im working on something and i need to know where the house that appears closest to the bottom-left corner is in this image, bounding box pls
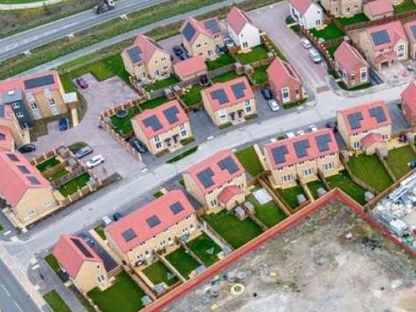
[47,234,113,296]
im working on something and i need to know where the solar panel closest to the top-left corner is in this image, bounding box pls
[26,74,58,91]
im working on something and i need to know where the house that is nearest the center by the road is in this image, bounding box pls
[175,148,244,206]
